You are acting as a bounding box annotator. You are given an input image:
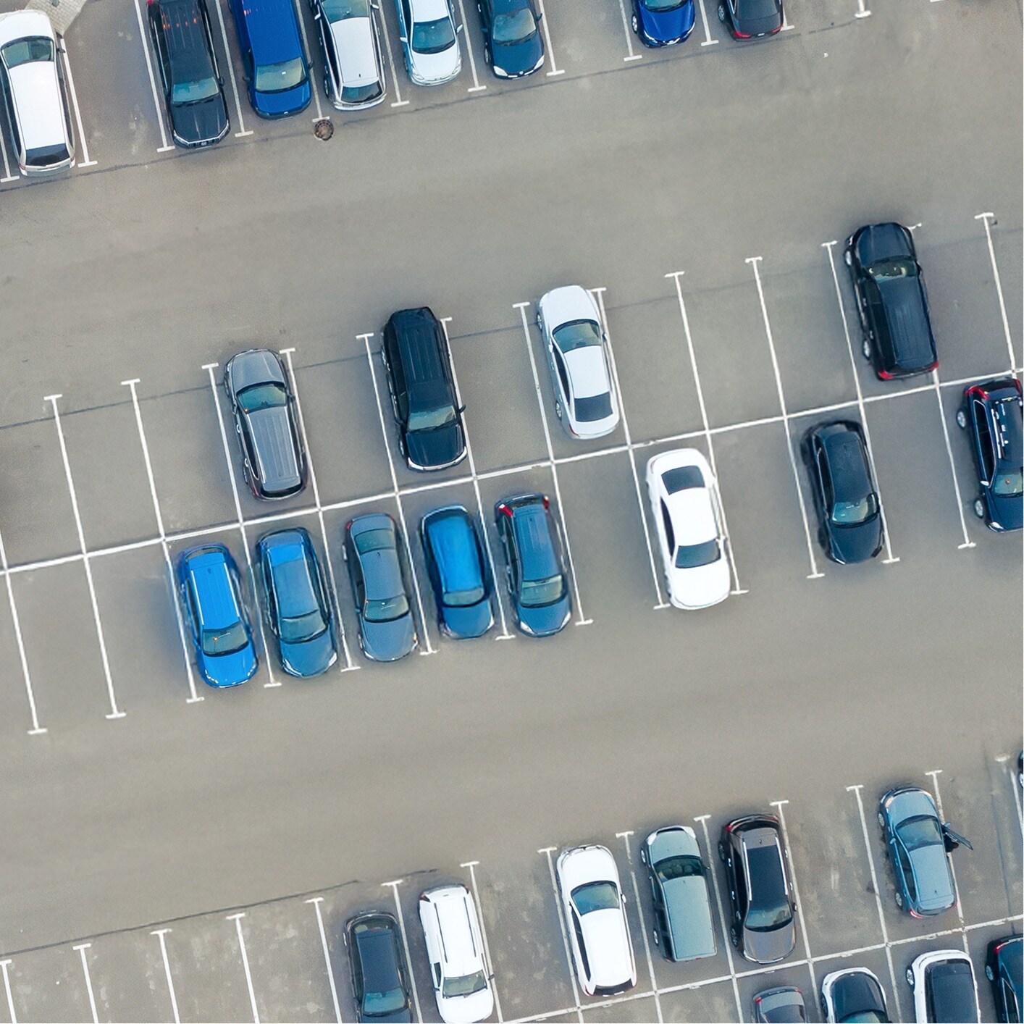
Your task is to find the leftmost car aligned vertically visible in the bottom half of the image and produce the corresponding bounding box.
[178,545,254,689]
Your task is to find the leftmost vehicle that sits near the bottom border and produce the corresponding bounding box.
[346,909,422,1024]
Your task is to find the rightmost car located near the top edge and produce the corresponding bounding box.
[716,0,782,41]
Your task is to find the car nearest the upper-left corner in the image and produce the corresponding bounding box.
[0,9,77,176]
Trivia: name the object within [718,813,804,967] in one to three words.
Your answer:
car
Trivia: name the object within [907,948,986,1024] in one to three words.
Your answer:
car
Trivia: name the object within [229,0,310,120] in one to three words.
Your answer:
van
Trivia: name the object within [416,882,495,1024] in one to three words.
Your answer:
van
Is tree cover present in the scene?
No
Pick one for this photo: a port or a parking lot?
parking lot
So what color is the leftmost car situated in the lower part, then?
blue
